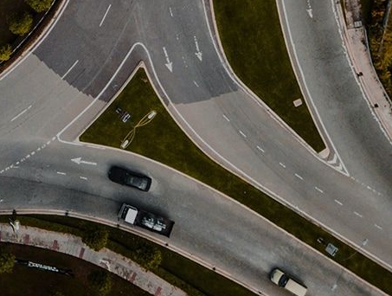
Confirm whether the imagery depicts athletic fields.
No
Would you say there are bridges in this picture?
No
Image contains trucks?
Yes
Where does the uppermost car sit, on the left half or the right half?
left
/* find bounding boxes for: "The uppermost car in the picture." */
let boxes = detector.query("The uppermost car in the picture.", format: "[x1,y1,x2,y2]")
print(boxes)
[106,166,153,192]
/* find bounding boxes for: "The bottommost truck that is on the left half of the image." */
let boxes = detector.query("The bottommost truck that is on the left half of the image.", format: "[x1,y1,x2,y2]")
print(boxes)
[117,204,172,238]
